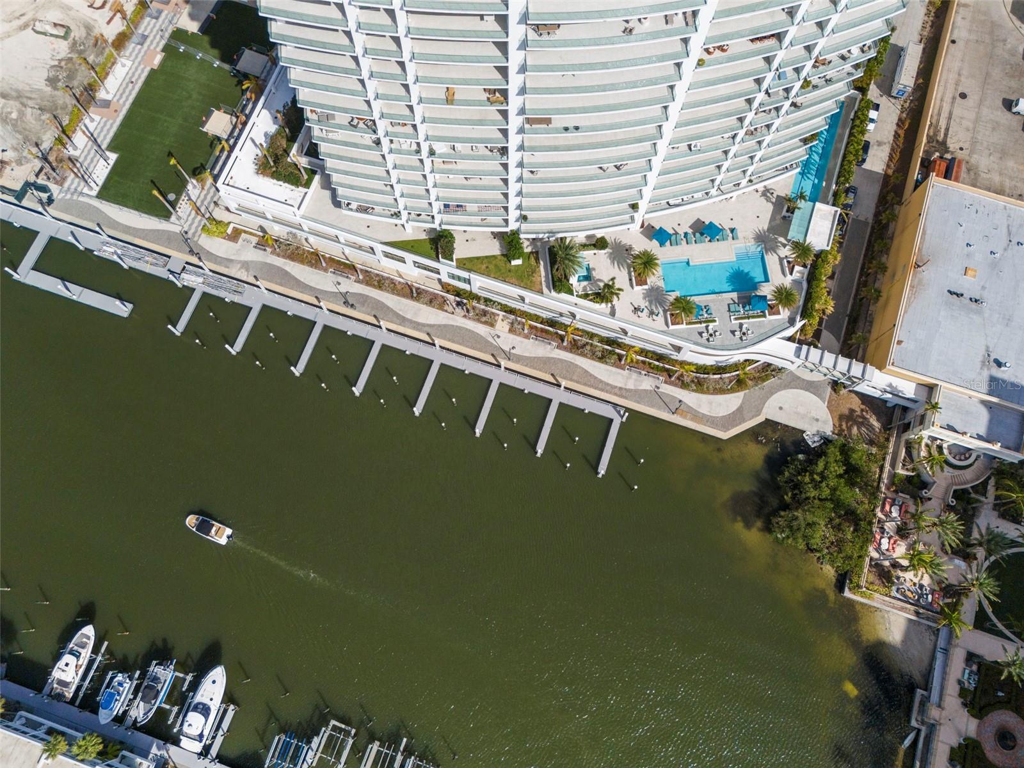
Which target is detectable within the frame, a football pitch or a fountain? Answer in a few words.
fountain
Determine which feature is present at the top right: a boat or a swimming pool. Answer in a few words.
swimming pool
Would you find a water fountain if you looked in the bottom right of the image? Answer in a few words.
Yes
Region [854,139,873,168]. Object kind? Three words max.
car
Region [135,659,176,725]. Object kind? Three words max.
boat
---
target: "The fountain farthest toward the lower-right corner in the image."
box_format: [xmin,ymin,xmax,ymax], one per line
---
[993,728,1019,754]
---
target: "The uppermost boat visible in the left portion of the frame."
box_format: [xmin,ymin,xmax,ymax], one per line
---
[186,516,234,545]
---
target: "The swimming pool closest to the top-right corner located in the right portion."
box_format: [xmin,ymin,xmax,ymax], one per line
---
[788,98,844,240]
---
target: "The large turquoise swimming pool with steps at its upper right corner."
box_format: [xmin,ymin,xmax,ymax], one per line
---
[657,239,775,300]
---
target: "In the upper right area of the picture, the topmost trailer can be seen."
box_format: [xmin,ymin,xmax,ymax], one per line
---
[890,41,923,98]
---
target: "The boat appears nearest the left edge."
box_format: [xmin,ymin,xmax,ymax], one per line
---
[48,625,97,706]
